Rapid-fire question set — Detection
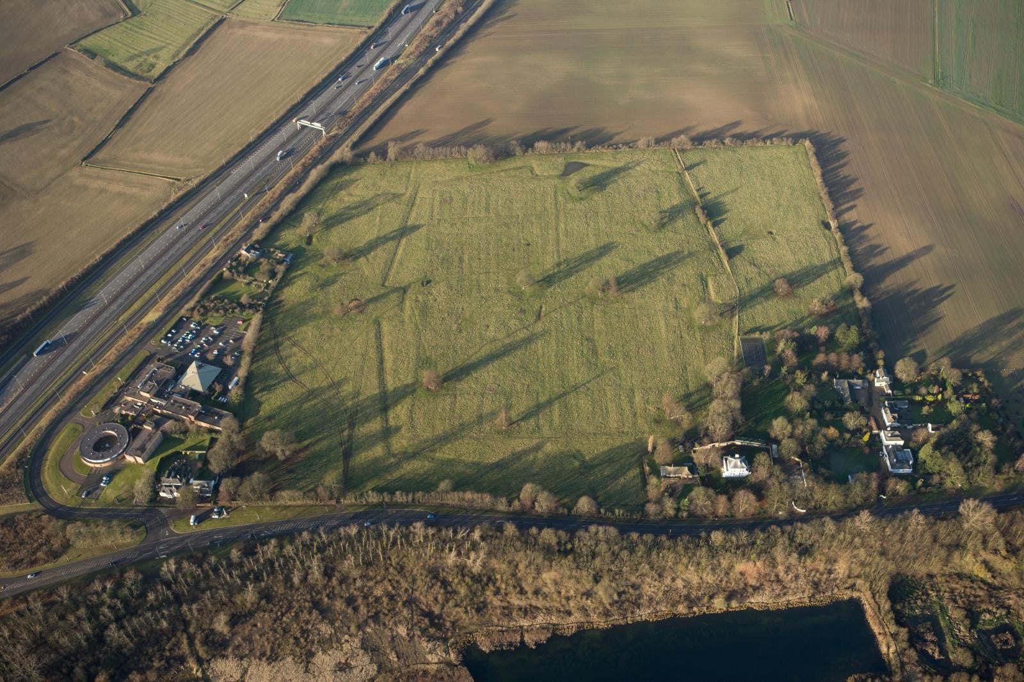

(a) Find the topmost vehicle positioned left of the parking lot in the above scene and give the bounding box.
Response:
[33,338,52,357]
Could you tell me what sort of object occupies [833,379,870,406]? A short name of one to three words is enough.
barn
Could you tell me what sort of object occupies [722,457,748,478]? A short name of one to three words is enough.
house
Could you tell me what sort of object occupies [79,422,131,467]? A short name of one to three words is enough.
building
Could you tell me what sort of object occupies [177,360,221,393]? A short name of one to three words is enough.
building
